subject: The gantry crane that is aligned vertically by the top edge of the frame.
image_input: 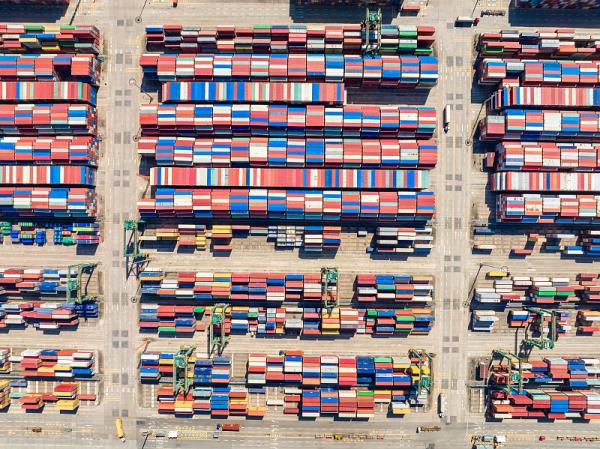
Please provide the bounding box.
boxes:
[362,7,382,60]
